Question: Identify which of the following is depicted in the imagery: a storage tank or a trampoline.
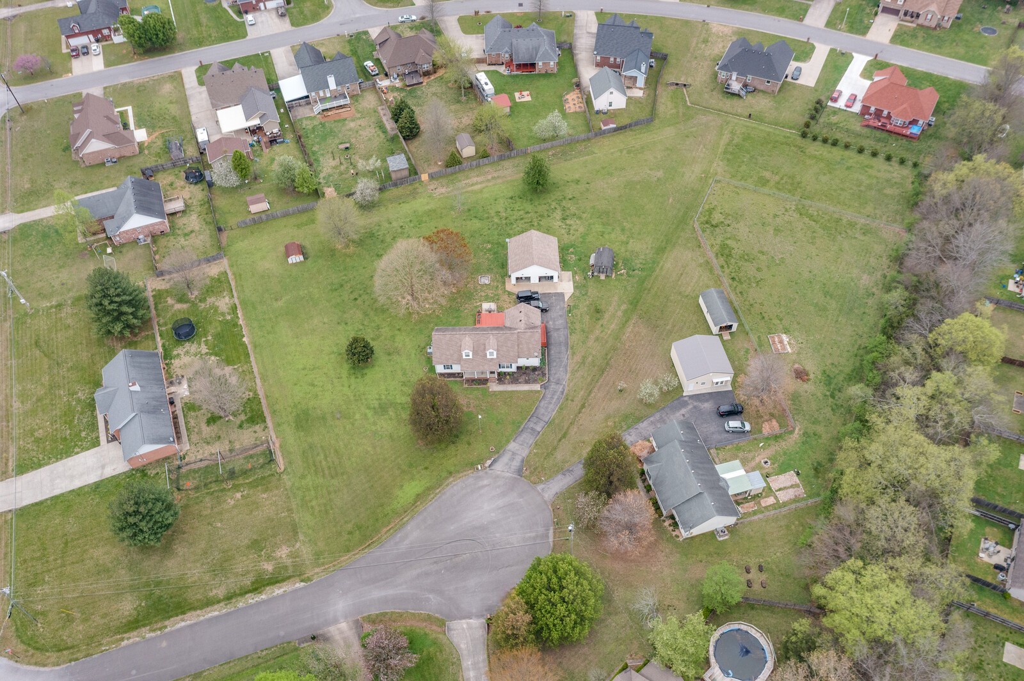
trampoline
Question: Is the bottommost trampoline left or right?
left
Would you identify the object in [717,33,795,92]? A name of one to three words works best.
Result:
house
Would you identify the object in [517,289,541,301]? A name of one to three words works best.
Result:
vehicle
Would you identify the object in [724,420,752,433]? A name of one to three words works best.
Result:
vehicle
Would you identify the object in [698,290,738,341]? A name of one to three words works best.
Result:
shed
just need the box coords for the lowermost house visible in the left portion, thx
[94,350,179,468]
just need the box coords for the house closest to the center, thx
[432,300,543,382]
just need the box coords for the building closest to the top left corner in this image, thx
[54,0,124,44]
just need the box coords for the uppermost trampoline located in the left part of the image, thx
[182,164,203,183]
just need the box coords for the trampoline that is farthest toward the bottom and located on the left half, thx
[170,317,196,341]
